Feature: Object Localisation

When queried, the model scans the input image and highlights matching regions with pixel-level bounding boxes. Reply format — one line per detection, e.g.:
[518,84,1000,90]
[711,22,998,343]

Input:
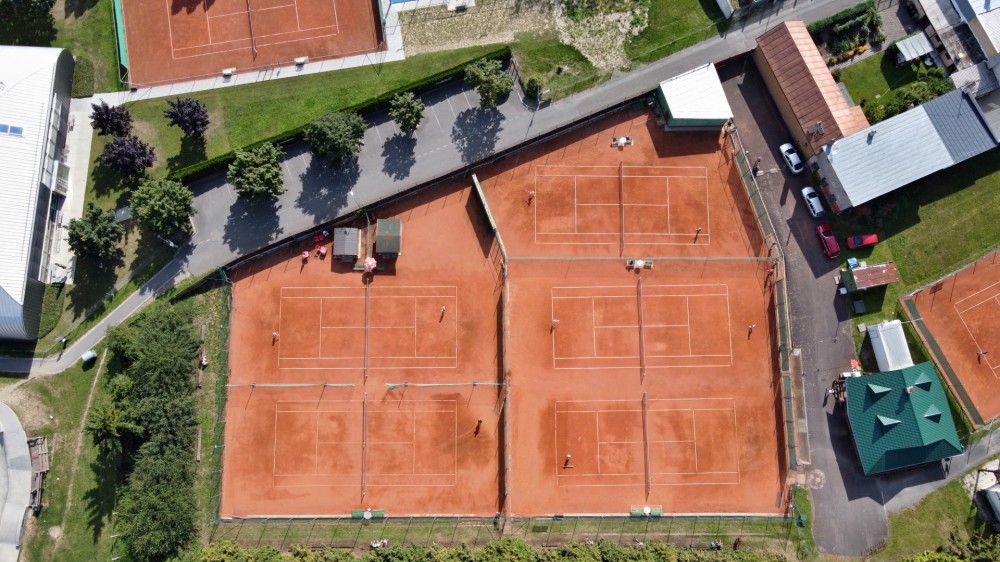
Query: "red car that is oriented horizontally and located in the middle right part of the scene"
[846,233,878,249]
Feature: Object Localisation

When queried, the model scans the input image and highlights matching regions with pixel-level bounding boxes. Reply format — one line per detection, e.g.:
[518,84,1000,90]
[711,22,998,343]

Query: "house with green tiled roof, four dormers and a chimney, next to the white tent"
[838,361,963,476]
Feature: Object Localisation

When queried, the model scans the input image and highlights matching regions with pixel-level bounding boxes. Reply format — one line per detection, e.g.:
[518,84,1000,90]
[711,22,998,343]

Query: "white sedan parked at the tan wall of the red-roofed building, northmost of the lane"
[778,143,804,176]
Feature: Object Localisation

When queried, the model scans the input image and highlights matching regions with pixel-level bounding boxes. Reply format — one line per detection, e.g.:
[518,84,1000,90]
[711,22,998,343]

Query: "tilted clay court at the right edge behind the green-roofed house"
[908,248,1000,422]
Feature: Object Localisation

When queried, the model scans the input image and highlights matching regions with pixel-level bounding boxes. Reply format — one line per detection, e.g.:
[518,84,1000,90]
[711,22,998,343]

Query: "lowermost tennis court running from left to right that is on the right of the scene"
[502,384,792,518]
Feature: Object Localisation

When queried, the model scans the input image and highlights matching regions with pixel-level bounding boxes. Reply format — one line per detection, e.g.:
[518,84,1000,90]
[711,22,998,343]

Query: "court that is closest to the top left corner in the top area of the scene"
[121,0,385,88]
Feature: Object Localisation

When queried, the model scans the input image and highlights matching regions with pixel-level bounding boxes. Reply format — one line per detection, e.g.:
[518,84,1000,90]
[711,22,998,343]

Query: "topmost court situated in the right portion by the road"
[496,105,773,261]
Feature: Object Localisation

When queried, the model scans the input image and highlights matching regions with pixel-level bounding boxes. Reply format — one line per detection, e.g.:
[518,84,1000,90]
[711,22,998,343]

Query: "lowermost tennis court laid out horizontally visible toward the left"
[220,385,505,518]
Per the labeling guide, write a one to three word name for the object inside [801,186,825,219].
car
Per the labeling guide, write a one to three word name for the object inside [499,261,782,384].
tennis court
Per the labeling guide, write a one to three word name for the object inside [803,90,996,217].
house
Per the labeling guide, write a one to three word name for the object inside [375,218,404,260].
shed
